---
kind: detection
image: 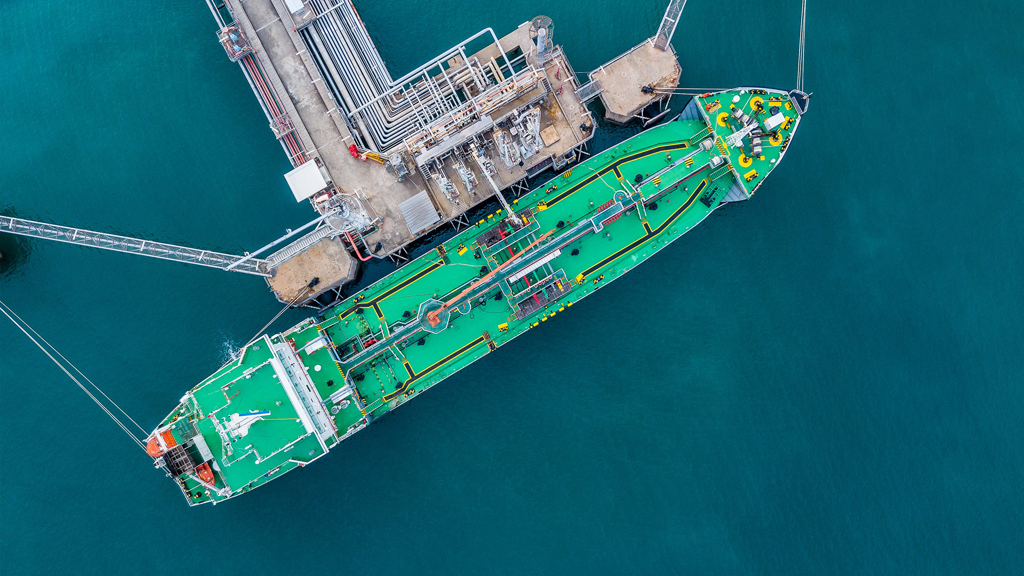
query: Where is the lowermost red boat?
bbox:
[190,460,216,488]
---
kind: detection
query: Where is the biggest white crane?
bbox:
[224,190,371,271]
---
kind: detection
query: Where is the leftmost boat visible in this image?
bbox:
[141,429,179,457]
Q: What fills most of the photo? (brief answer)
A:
water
